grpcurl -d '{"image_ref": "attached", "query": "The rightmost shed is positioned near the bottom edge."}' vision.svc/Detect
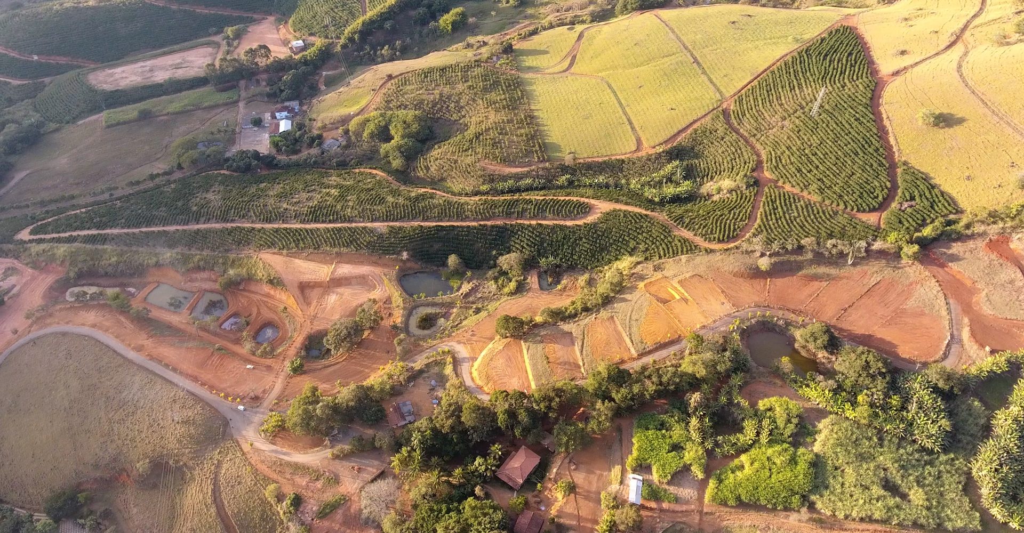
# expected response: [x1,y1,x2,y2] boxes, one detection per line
[627,471,643,507]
